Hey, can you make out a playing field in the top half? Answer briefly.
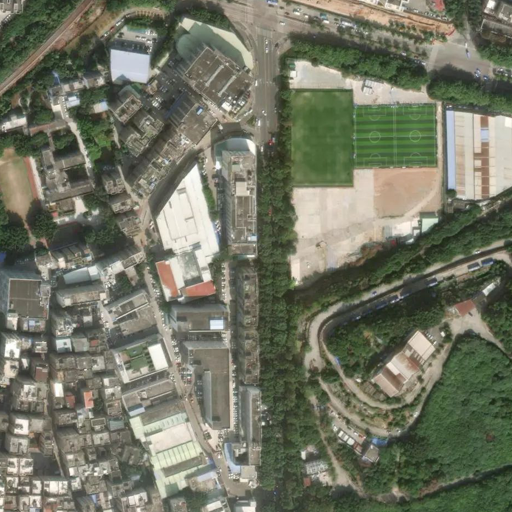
Yes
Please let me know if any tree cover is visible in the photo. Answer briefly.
Yes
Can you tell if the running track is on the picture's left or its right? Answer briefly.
left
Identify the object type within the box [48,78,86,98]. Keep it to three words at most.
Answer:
house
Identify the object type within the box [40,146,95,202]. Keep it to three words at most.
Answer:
building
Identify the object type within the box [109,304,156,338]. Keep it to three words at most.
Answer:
building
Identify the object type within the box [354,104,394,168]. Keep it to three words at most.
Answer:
soccer field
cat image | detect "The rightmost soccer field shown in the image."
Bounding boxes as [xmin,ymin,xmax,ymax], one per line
[394,104,436,168]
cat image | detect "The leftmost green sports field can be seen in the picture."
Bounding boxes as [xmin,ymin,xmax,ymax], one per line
[292,89,354,188]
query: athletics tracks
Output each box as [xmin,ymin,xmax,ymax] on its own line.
[0,148,41,234]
